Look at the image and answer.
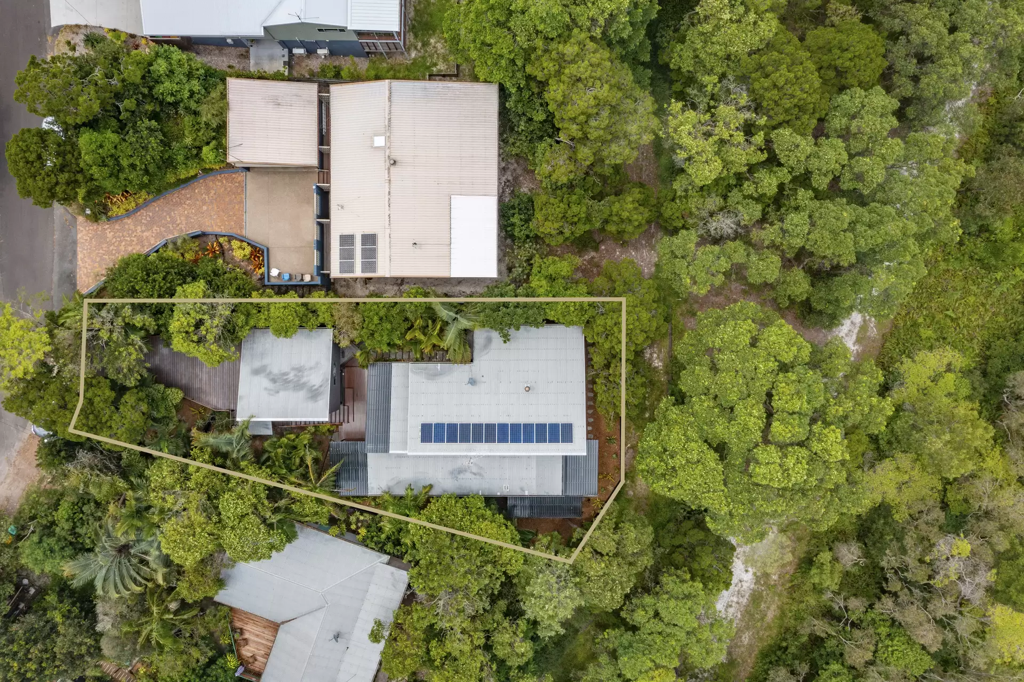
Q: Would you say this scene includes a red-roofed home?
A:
No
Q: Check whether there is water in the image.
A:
No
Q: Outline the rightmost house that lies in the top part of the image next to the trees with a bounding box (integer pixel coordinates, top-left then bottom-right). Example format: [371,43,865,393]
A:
[329,79,500,278]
